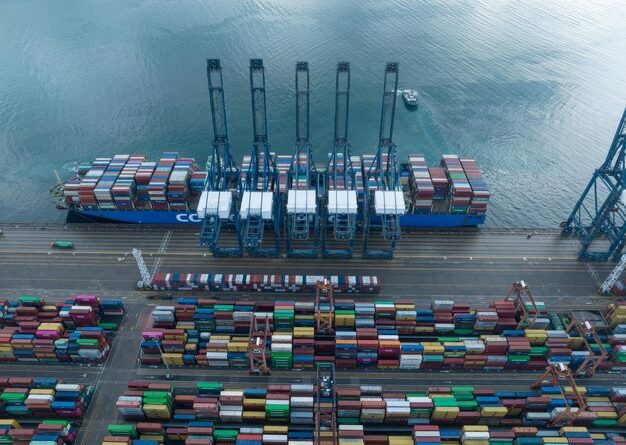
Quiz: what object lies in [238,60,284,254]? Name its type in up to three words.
container crane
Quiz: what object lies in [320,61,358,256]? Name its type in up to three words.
container crane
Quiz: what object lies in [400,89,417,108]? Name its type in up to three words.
boat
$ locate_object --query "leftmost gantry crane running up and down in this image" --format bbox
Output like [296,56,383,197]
[195,59,246,254]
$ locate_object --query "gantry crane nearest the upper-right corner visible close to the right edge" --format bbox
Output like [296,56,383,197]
[565,119,626,259]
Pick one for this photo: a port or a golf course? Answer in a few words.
port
